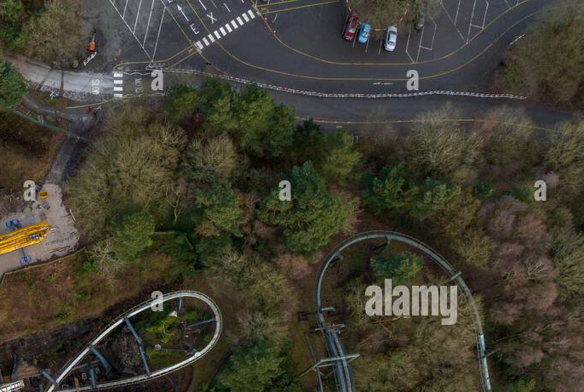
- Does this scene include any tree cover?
Yes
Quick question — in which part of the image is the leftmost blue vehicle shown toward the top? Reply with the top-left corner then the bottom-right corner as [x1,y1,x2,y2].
[356,22,371,44]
